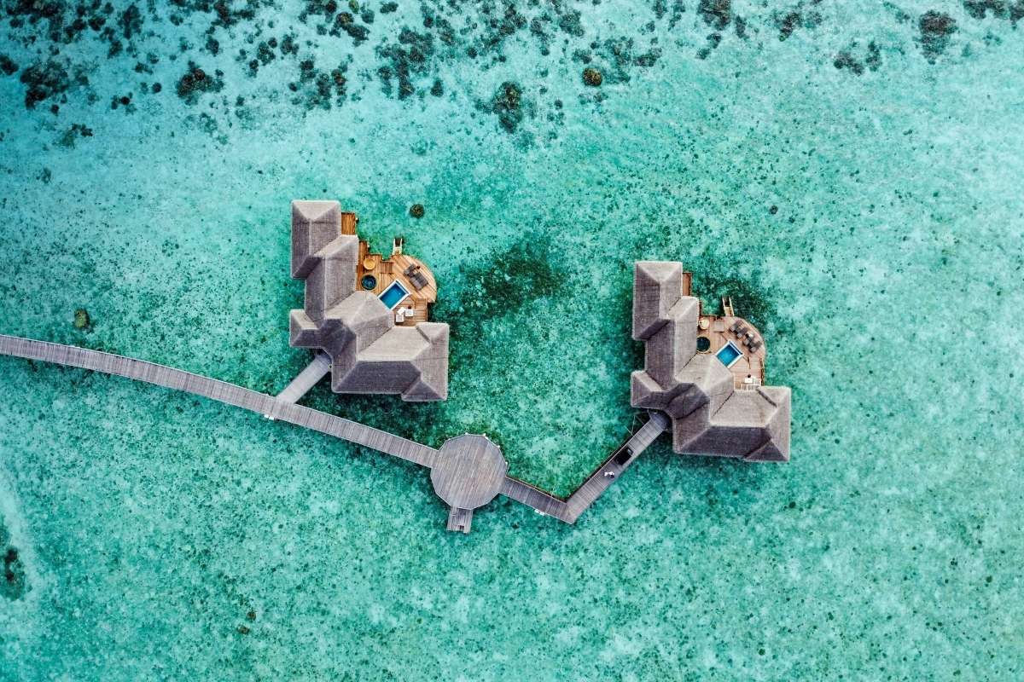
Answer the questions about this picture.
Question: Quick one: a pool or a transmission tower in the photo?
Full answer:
Visible in the photo is a pool.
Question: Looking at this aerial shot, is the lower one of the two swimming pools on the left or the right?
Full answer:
The lower one of the two swimming pools sits on the right side.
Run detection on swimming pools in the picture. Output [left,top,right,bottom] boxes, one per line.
[716,342,741,366]
[379,282,407,307]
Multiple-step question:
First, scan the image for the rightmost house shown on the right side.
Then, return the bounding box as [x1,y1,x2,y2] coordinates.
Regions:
[630,261,791,463]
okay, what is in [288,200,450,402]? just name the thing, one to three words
house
